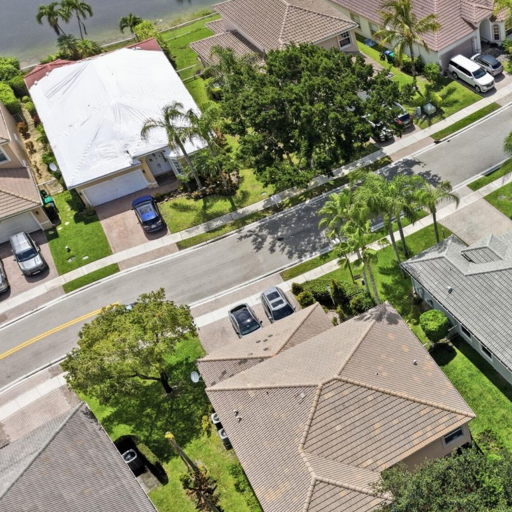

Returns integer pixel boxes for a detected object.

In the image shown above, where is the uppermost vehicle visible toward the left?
[132,194,168,236]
